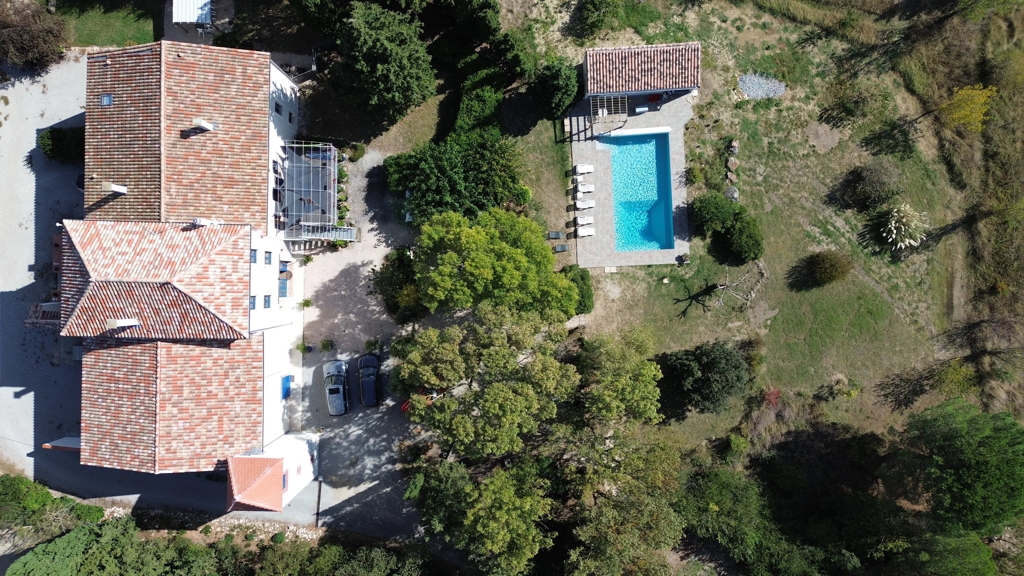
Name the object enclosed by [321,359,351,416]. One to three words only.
car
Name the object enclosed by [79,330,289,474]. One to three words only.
house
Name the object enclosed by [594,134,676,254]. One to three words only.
swimming pool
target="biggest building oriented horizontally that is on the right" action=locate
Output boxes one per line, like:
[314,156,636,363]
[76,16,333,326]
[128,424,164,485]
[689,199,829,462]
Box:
[585,41,702,97]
